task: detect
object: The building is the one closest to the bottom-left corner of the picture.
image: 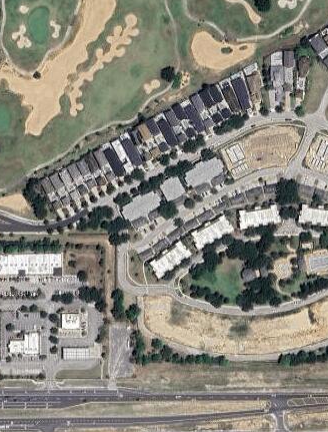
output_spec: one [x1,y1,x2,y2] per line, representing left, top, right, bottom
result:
[9,331,39,354]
